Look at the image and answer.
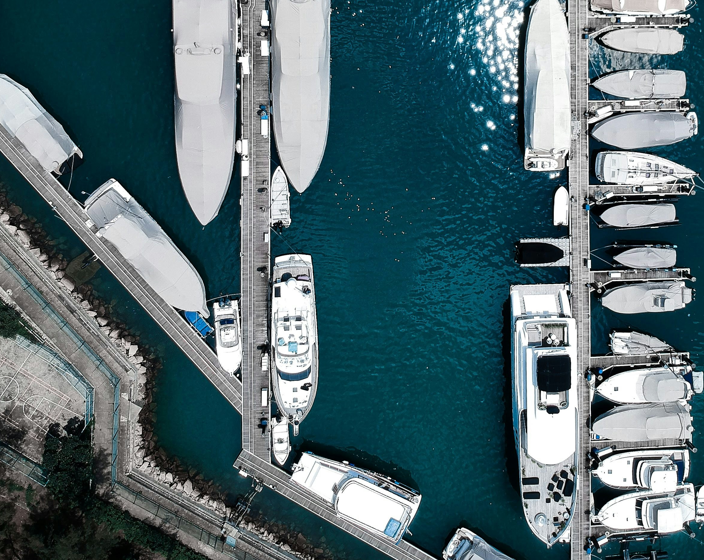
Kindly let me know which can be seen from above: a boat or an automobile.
boat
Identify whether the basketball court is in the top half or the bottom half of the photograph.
bottom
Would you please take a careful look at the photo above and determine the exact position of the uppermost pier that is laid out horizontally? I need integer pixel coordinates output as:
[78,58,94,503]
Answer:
[589,15,689,36]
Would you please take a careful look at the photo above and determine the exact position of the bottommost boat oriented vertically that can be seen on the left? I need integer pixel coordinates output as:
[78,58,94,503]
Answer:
[273,413,289,465]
